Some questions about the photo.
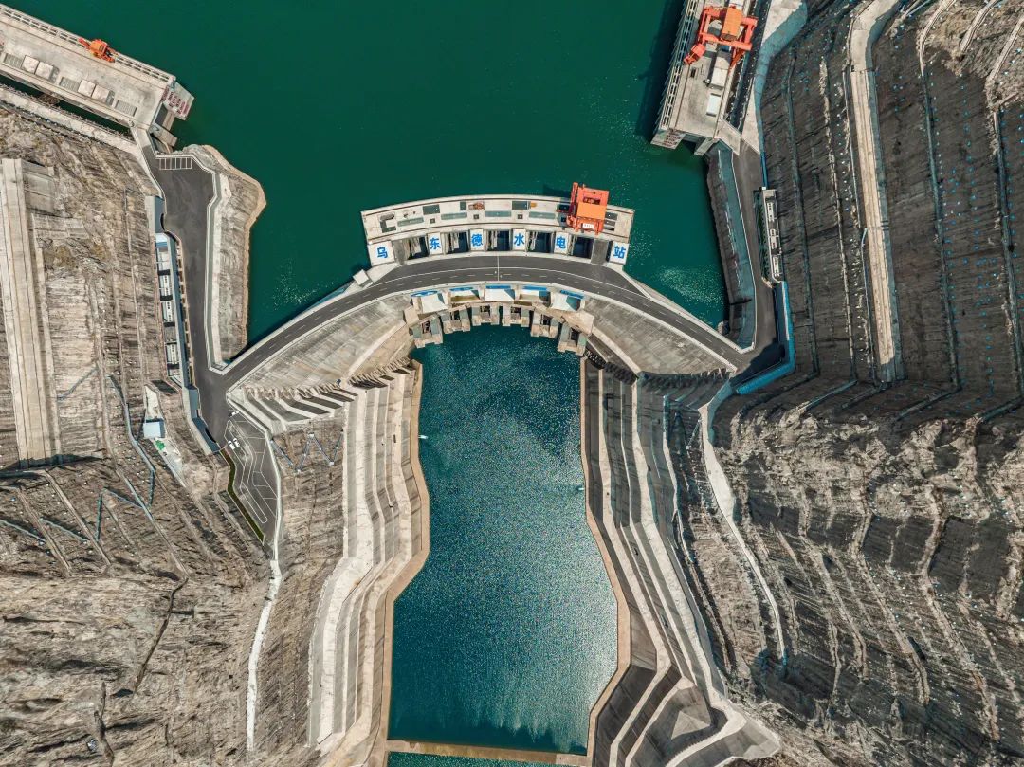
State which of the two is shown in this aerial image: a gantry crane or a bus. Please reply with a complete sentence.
Visible in the photo is a gantry crane.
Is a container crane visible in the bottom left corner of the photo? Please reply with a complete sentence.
No, there's no container crane to be seen in the bottom left corner of the photo.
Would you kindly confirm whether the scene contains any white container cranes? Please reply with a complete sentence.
No, the frame has no white container crane in it.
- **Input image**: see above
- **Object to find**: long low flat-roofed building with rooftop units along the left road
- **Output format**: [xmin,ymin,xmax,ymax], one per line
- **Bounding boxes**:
[155,233,194,388]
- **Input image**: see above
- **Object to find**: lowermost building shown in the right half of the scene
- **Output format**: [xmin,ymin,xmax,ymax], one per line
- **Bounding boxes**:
[756,184,790,284]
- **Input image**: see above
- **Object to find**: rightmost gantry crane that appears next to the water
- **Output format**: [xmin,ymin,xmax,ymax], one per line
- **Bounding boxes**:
[682,1,758,71]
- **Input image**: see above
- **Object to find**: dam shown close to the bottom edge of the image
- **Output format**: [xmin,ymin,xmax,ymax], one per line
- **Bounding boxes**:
[383,734,594,767]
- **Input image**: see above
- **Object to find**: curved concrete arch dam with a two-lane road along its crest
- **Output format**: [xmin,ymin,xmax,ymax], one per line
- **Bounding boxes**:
[223,194,744,388]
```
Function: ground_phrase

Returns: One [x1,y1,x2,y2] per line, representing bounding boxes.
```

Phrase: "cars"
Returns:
[230,409,239,416]
[233,438,240,447]
[227,441,234,450]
